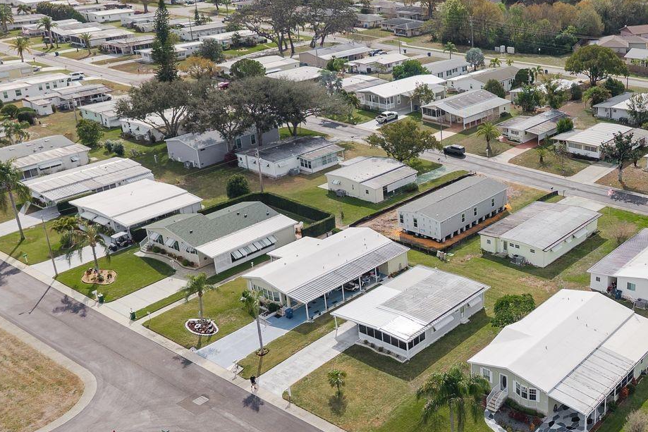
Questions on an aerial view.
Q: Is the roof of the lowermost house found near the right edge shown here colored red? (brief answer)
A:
No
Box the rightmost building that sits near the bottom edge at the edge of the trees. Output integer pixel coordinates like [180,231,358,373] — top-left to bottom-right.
[466,289,648,432]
